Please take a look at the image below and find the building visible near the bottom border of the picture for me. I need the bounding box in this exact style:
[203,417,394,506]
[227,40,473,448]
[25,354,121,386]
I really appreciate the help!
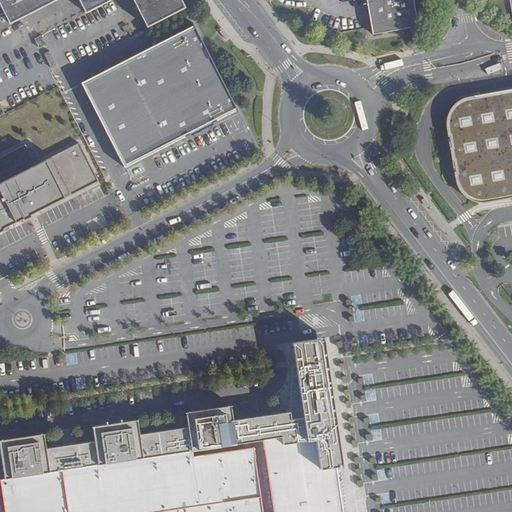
[0,337,348,512]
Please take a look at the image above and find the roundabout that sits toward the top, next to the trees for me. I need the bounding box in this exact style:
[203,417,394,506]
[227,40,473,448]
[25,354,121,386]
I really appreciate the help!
[280,66,379,164]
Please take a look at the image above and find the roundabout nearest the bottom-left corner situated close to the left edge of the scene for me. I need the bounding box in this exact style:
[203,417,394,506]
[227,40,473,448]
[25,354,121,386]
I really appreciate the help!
[0,288,51,348]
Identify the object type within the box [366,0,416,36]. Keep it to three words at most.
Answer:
building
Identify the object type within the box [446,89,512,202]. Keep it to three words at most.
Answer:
building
